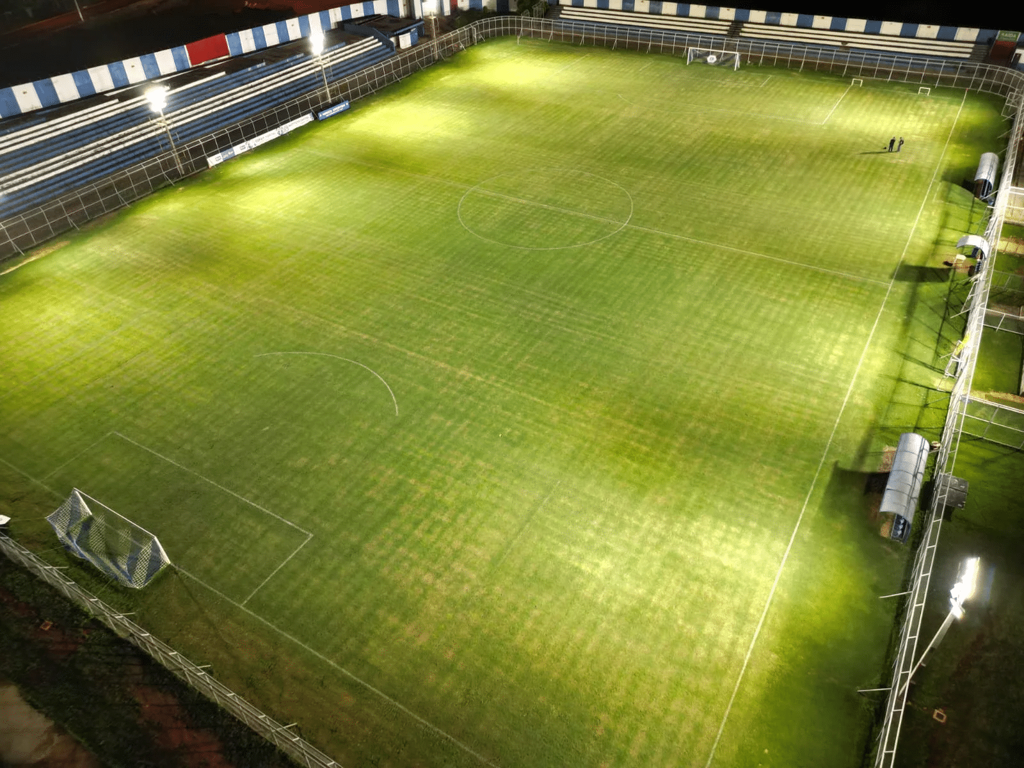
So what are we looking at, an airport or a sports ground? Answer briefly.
sports ground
